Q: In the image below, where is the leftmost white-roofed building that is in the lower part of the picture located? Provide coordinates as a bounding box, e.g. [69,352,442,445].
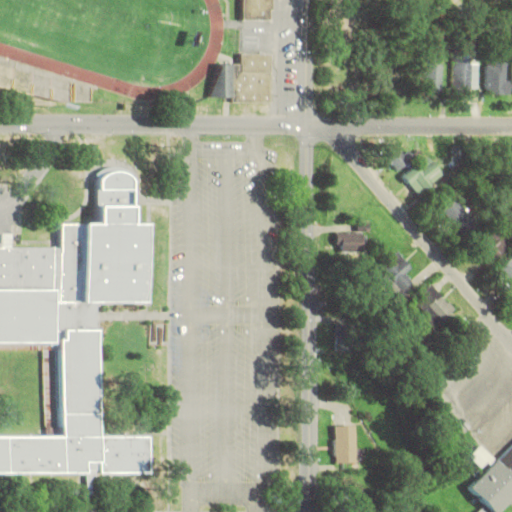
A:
[0,166,154,478]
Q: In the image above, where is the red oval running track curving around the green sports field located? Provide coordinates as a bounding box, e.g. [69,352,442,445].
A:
[0,0,224,99]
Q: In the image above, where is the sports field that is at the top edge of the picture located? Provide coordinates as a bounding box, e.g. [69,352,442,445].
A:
[0,0,210,86]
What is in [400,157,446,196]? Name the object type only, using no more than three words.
house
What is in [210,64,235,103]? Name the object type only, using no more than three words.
building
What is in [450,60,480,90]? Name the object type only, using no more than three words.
house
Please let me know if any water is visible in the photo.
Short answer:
No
